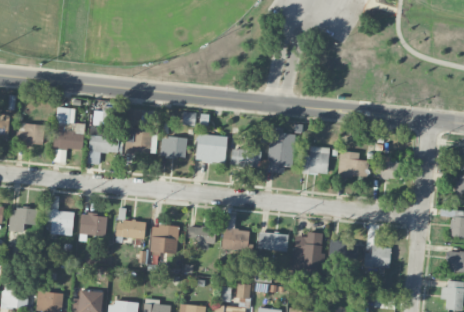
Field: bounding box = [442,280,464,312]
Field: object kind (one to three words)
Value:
house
